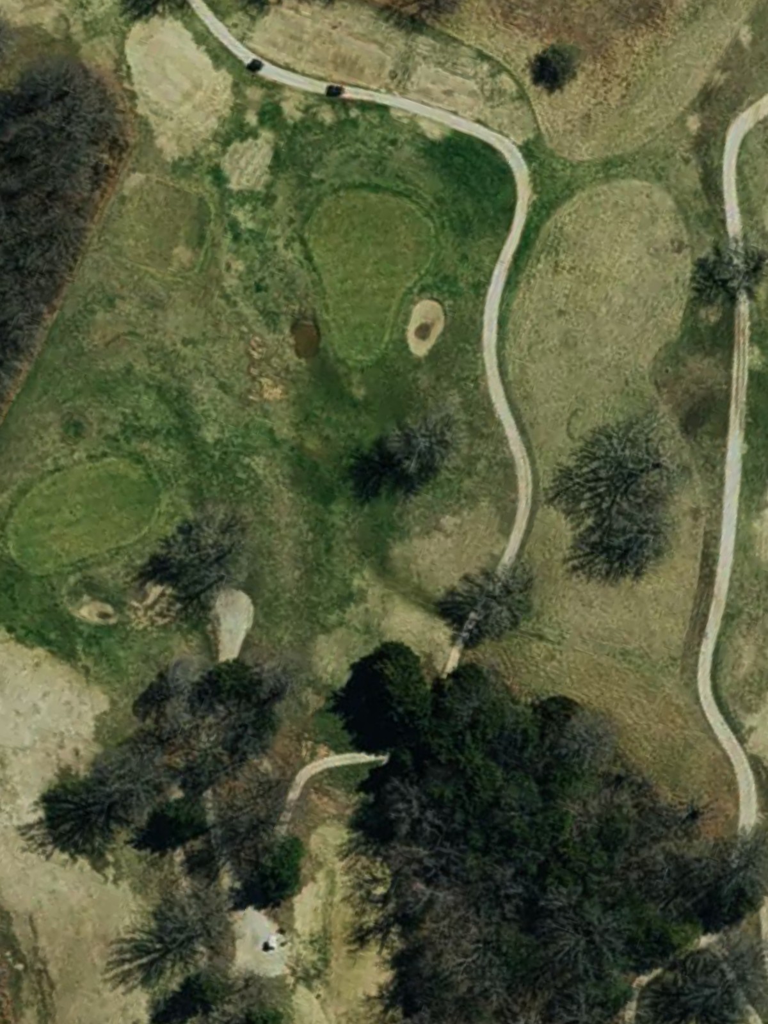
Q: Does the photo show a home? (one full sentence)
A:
No, the picture doesn't show any home.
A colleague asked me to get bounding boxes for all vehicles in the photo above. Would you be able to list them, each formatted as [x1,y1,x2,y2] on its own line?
[328,85,343,95]
[248,58,264,70]
[269,932,279,947]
